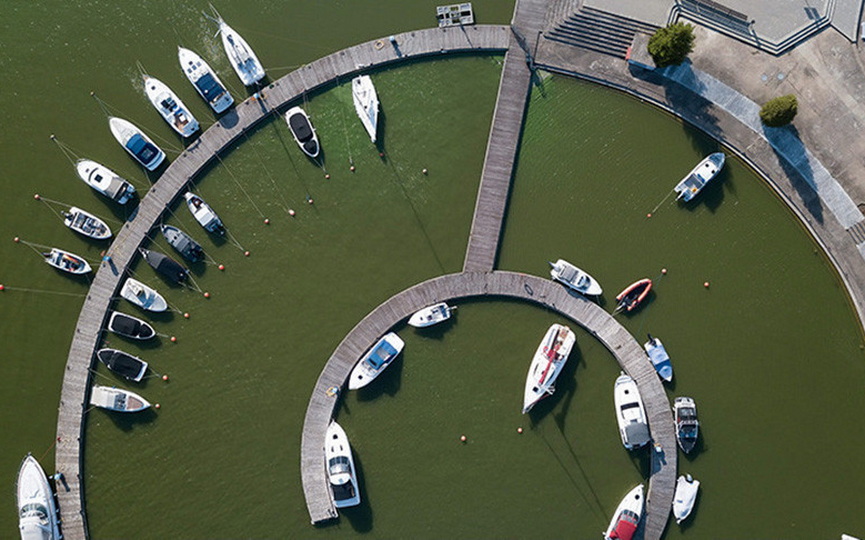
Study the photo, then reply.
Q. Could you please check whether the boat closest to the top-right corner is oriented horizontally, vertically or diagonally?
diagonally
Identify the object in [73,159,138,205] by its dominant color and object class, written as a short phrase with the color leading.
white boat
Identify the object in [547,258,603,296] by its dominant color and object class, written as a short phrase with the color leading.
white boat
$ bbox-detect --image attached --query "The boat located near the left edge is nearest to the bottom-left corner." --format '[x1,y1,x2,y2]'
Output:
[14,453,67,540]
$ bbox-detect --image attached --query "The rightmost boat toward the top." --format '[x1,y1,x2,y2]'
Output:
[672,151,729,203]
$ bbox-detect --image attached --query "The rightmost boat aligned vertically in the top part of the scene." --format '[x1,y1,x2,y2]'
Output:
[351,75,382,142]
